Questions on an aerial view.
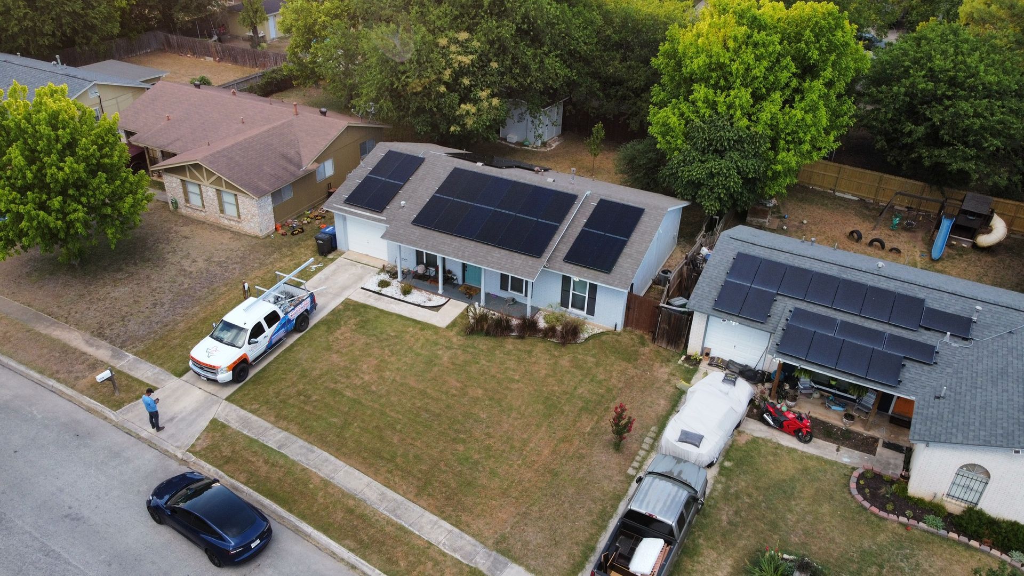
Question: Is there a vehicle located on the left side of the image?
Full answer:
Yes, the scene does show a vehicle on the left side of the image.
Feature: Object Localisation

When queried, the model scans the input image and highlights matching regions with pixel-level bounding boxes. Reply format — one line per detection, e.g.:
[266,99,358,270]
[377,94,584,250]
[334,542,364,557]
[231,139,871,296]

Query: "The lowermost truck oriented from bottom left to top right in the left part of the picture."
[185,271,318,382]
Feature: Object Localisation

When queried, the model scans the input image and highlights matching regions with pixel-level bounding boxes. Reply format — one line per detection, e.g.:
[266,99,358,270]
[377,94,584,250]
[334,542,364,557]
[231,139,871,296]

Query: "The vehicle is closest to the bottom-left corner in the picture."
[150,475,277,573]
